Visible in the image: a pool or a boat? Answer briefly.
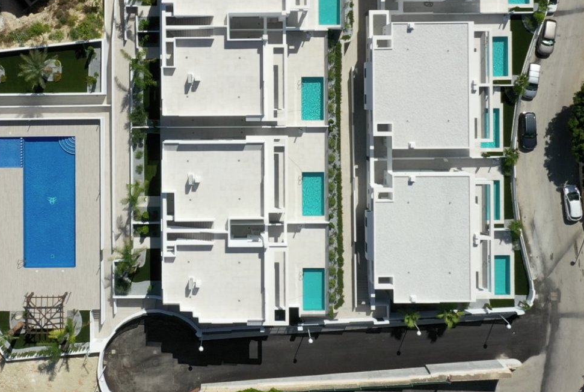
pool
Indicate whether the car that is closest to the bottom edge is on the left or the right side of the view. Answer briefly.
right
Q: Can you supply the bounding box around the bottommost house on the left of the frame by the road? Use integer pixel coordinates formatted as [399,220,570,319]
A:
[163,231,291,333]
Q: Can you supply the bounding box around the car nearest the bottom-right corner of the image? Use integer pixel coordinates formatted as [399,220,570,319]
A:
[561,184,583,223]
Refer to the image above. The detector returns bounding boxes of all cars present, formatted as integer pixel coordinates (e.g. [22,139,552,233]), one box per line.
[561,184,583,223]
[545,0,561,15]
[534,19,557,59]
[521,63,541,100]
[517,113,537,151]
